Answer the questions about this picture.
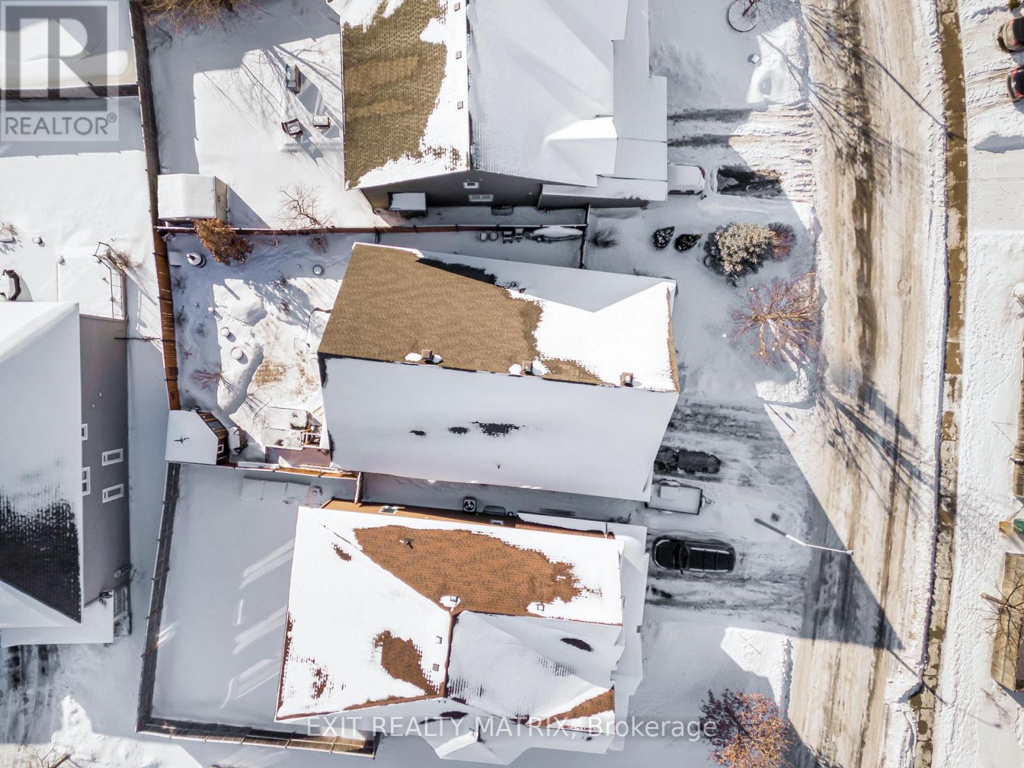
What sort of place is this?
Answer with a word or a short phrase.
residential area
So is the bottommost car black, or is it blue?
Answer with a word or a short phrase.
black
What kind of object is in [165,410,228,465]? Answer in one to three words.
shed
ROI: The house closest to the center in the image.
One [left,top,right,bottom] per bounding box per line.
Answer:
[317,242,680,510]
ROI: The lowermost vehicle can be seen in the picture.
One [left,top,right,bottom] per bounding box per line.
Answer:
[651,534,736,576]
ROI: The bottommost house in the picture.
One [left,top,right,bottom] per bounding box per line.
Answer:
[273,498,648,766]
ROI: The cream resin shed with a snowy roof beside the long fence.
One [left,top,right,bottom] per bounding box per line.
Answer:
[158,173,227,222]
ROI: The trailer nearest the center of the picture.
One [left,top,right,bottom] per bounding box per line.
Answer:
[652,476,726,519]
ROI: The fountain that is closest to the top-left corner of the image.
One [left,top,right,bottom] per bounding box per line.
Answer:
[183,249,205,268]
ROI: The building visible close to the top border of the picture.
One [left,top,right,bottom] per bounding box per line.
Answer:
[328,0,667,221]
